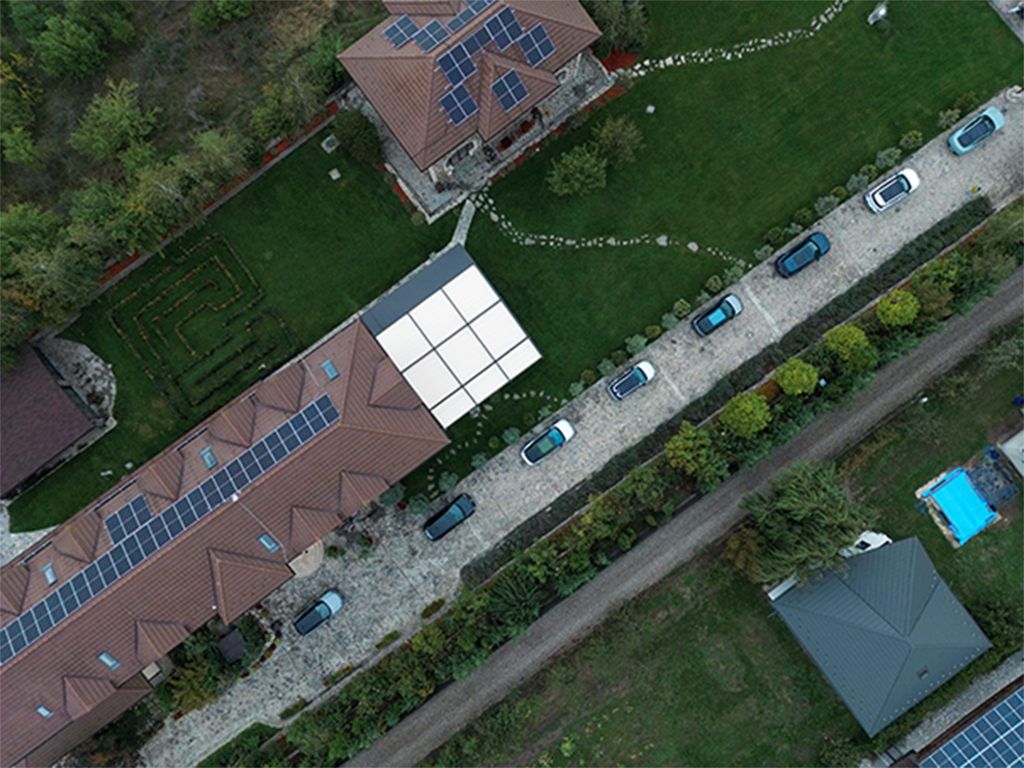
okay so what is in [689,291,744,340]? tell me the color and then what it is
blue car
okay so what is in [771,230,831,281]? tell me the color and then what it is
blue car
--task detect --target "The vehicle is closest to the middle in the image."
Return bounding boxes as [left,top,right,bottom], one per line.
[520,417,575,467]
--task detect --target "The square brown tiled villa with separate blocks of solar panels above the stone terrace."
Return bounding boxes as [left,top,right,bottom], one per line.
[337,0,603,171]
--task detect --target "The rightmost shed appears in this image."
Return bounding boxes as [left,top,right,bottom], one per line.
[989,423,1024,478]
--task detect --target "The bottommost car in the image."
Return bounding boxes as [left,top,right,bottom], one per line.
[289,586,347,639]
